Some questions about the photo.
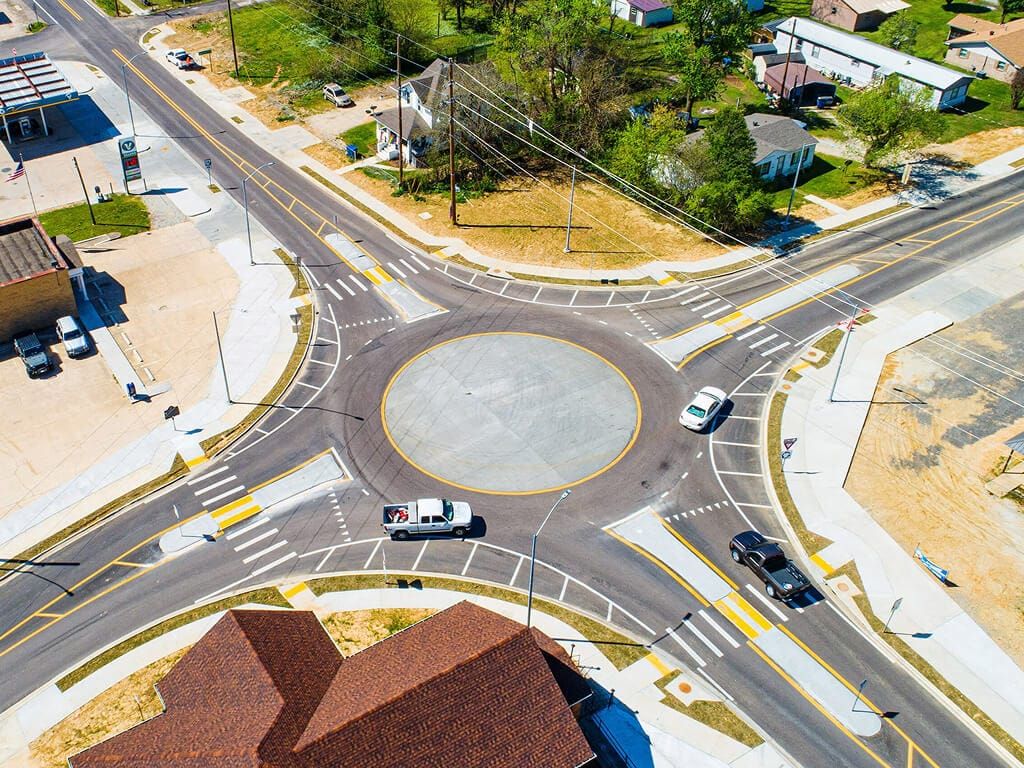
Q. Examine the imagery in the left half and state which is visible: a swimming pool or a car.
car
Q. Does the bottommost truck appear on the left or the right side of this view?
right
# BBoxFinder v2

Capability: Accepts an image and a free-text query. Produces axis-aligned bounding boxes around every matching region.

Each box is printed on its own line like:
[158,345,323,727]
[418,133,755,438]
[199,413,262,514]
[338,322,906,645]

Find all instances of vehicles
[728,533,809,606]
[682,388,723,433]
[165,48,195,69]
[321,81,351,105]
[384,500,475,540]
[51,312,94,358]
[11,330,51,374]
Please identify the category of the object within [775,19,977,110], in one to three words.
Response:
house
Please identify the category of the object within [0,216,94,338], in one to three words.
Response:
building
